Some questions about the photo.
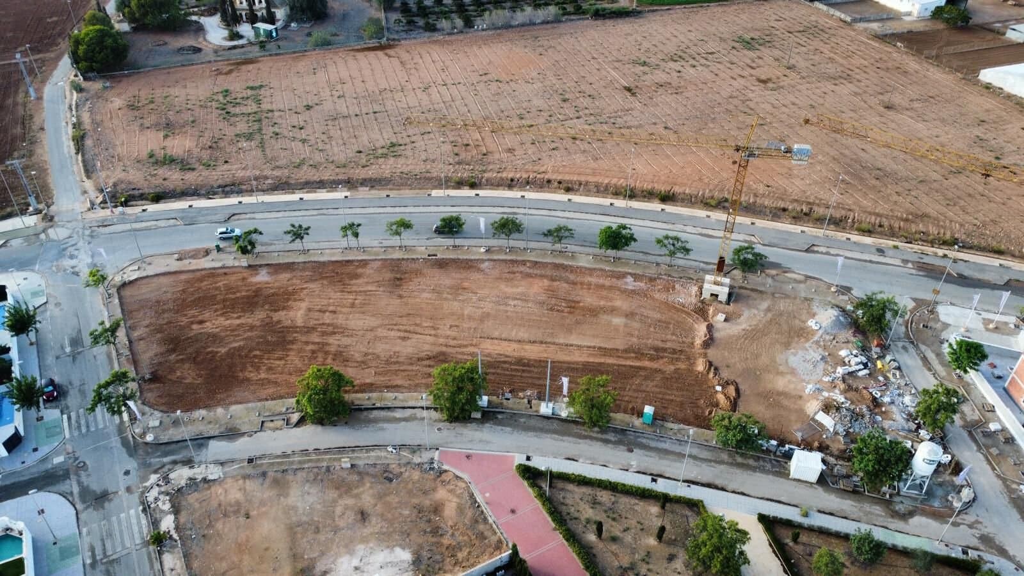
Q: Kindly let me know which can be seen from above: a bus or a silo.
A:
silo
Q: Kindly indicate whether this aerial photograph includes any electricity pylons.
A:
Yes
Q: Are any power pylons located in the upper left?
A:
Yes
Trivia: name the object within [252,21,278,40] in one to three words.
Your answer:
building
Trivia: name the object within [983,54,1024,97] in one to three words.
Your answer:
greenhouse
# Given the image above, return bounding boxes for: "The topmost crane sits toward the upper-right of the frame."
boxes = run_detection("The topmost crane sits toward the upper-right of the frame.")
[799,109,1024,186]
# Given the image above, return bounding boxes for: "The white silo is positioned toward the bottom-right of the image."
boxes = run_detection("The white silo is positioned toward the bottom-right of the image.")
[900,441,947,496]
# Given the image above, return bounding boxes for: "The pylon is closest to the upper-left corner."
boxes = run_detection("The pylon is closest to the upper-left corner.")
[15,56,39,98]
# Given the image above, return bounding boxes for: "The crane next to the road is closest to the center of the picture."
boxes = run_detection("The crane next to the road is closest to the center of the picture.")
[400,113,824,275]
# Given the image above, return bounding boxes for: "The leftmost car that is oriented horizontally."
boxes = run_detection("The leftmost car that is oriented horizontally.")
[211,227,243,240]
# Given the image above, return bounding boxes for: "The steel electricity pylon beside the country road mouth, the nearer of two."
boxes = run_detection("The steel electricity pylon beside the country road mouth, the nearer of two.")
[3,157,41,211]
